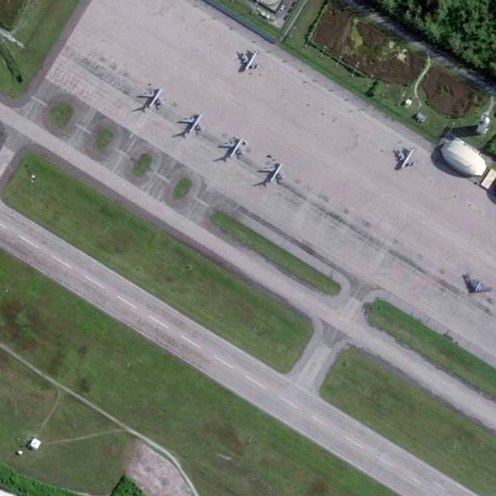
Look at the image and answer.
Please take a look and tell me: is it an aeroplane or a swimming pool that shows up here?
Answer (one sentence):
This aerial view contains an aeroplane.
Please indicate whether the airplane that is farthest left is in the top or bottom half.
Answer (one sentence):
Seen from above, the airplane that is farthest left lies in the top half of the view.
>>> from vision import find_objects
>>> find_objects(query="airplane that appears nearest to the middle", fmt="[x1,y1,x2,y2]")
[263,162,283,185]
